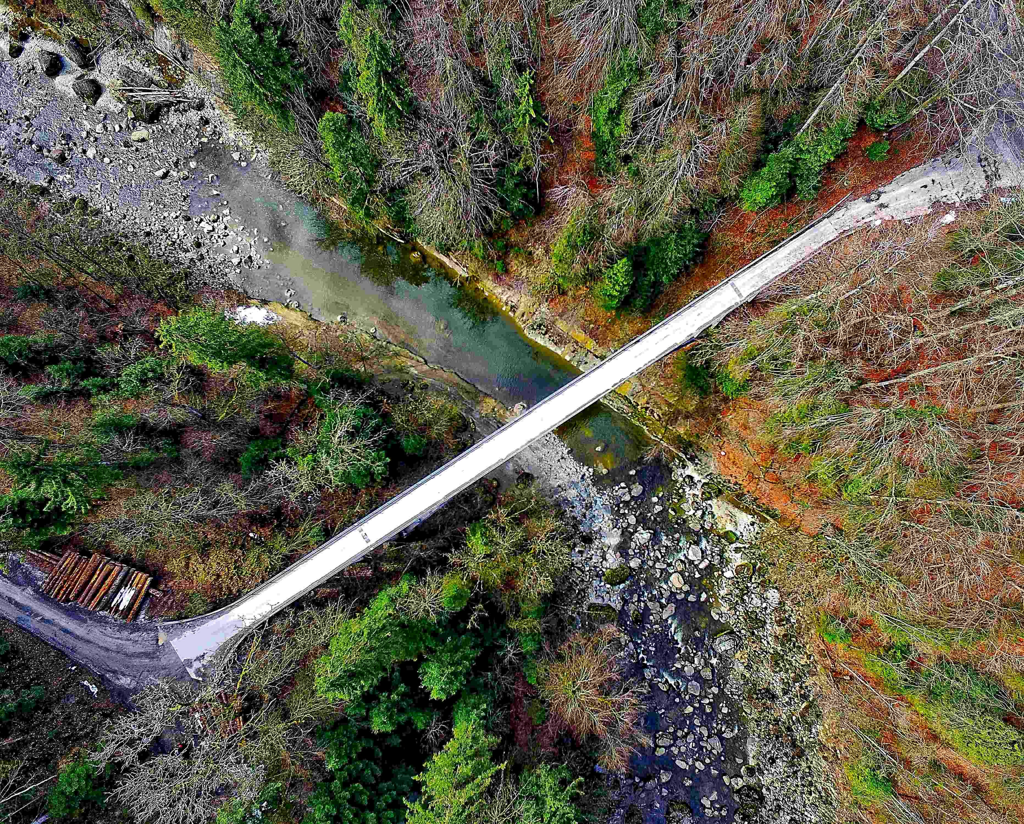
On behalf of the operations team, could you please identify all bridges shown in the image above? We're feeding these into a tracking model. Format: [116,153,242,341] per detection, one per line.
[178,209,842,667]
